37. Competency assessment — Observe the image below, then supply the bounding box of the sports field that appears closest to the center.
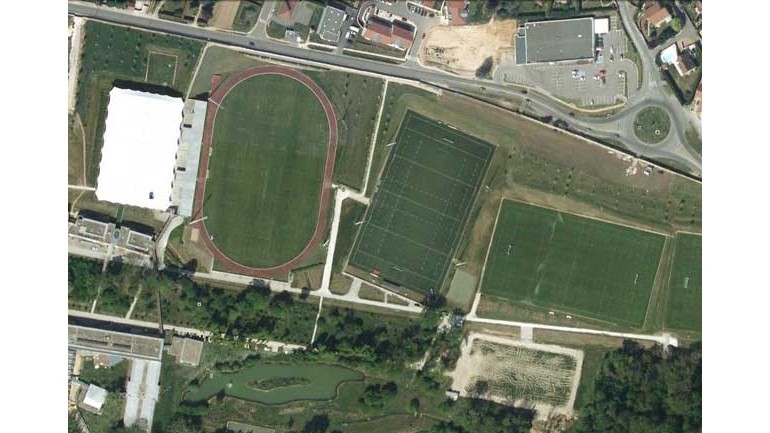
[346,108,497,301]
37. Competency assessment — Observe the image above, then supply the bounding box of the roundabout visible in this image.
[623,95,682,155]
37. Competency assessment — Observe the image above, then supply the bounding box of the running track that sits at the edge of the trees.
[183,65,337,277]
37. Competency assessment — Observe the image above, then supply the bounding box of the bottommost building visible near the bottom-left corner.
[78,383,107,416]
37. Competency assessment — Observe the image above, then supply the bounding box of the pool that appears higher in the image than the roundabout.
[661,44,678,63]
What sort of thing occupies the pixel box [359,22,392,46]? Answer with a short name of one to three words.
house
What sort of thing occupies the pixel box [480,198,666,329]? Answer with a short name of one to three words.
soccer field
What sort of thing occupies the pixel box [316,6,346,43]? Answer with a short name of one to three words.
building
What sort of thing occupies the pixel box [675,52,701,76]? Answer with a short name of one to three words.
house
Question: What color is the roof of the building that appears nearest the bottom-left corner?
white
